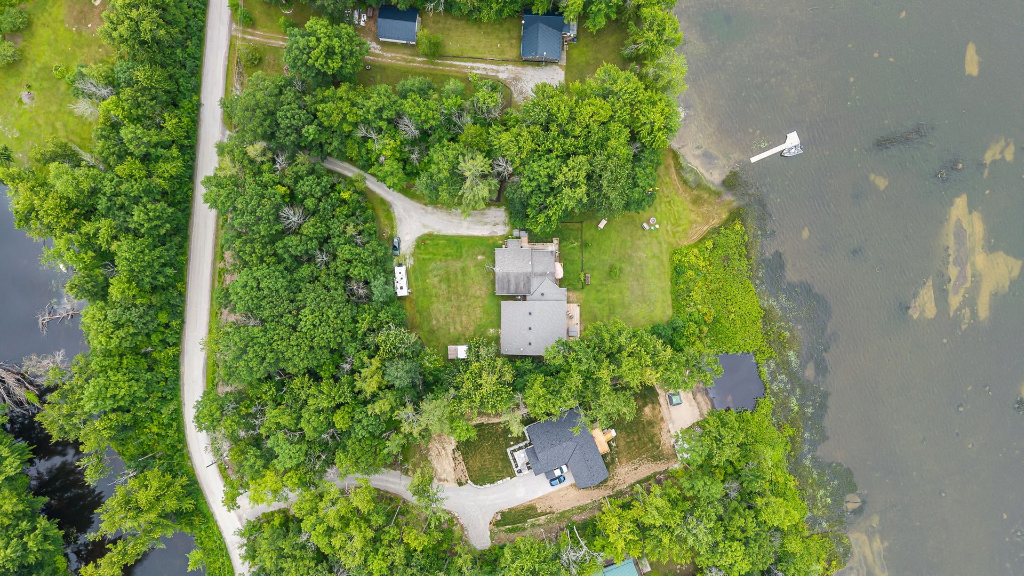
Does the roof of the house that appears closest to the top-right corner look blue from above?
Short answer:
Yes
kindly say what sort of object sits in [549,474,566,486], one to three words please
vehicle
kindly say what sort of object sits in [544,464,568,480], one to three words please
vehicle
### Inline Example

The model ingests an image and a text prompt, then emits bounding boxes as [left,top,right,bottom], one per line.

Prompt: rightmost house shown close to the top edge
[522,7,578,61]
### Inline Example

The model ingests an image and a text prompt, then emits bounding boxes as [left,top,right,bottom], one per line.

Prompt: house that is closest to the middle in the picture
[485,237,580,356]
